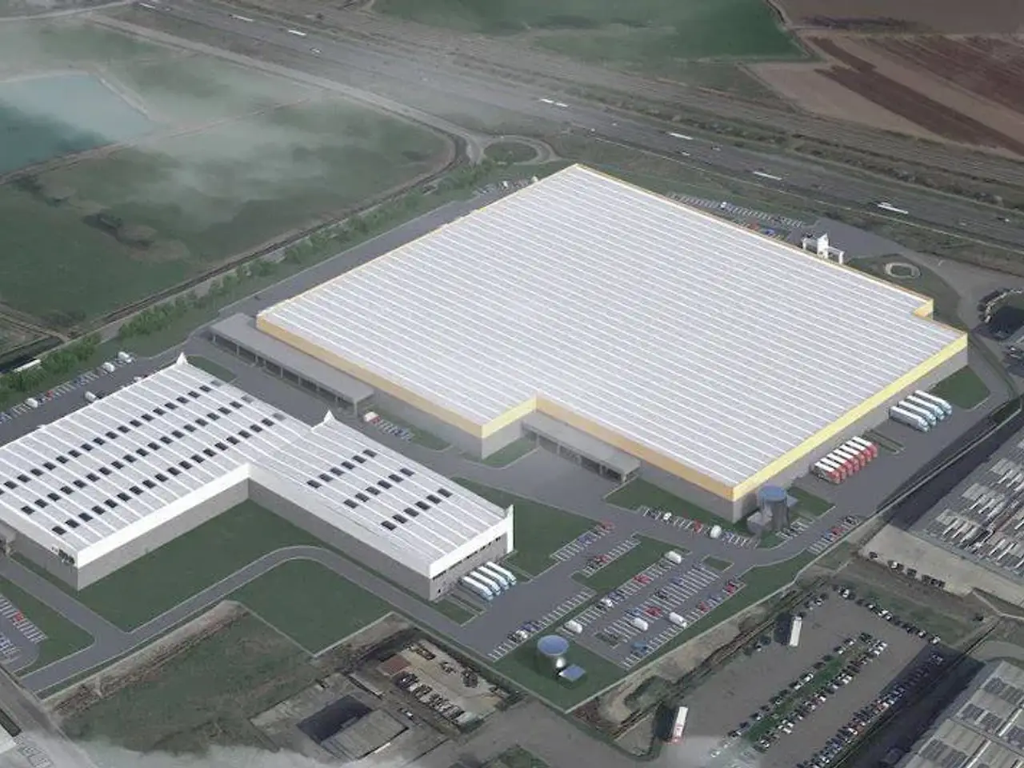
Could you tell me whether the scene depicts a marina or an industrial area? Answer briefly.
industrial area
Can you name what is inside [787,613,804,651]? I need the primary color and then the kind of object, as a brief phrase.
white vehicle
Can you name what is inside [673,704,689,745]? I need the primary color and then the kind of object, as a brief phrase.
white vehicle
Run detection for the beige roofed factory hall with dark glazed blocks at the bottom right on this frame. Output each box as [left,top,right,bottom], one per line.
[892,661,1024,768]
